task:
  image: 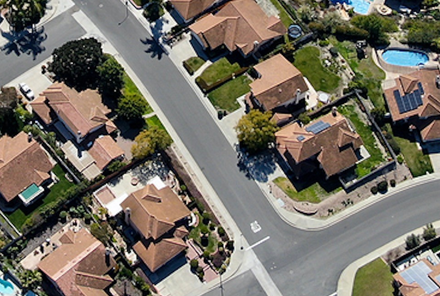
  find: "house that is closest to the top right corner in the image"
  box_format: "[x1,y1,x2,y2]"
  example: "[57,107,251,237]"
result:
[386,69,440,144]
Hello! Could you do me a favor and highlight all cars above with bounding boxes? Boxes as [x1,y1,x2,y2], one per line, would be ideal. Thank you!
[19,83,35,100]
